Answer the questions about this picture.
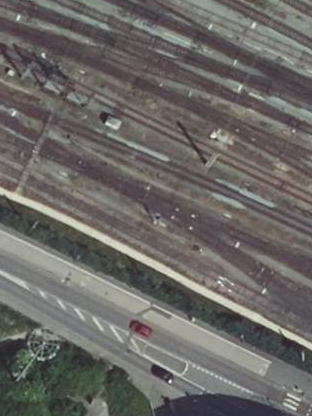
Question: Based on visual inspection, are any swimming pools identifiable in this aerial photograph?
No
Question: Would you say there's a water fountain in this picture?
No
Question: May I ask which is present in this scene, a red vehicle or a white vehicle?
red vehicle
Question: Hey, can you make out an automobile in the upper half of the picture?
No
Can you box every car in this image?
[128,320,151,336]
[150,364,174,382]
